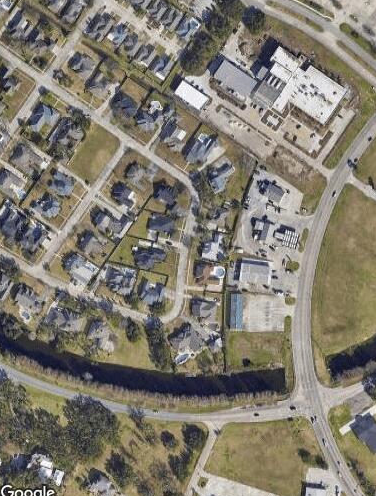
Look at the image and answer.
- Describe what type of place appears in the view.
residential area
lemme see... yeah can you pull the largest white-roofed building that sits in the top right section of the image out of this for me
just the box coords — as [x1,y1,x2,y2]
[272,65,346,125]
